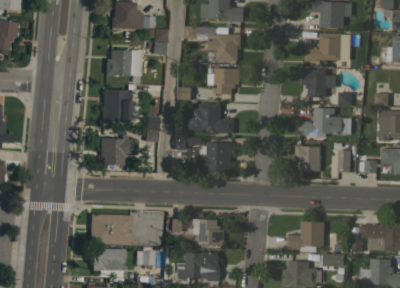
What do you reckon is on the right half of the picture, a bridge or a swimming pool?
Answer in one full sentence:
What appears on the right half of the picture is a swimming pool.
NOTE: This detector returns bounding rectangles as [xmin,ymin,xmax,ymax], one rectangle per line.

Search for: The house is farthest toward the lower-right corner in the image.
[361,260,400,288]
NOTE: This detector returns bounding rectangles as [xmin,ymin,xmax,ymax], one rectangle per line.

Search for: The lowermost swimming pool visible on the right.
[340,72,361,92]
